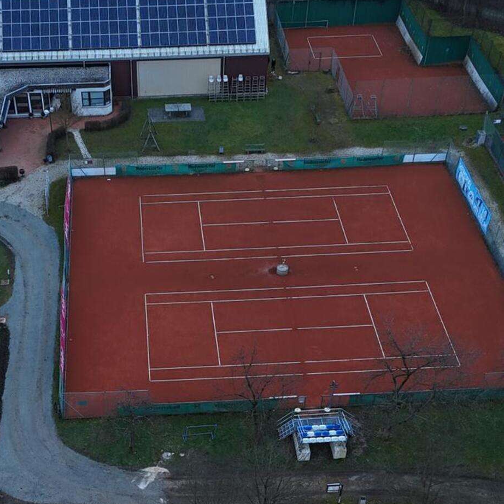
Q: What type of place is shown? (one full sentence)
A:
What you see here is a sports ground.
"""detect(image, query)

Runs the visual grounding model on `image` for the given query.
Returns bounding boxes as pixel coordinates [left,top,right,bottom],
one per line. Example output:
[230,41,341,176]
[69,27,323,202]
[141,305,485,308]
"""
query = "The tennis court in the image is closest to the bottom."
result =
[65,262,504,419]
